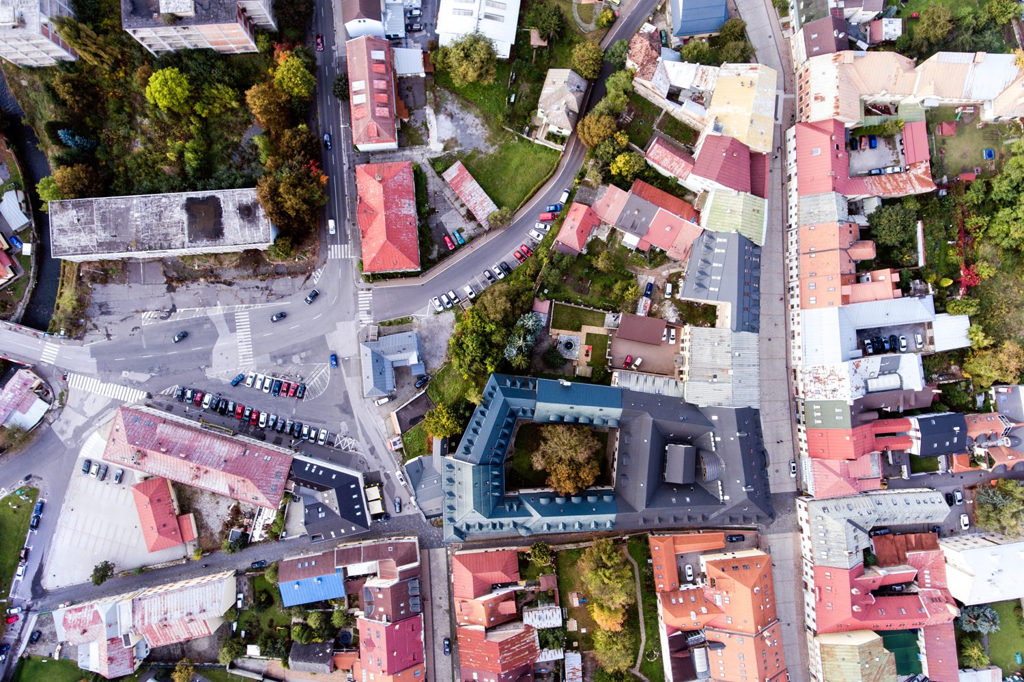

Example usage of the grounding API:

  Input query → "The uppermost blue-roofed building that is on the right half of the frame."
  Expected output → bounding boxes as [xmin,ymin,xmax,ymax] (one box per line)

[667,0,730,46]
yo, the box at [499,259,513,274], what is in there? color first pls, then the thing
black car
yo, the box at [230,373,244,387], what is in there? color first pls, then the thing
blue car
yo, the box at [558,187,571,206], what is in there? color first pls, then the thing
white vehicle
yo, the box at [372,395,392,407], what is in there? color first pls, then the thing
white vehicle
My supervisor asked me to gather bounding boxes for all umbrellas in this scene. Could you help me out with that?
[365,486,381,501]
[368,499,384,515]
